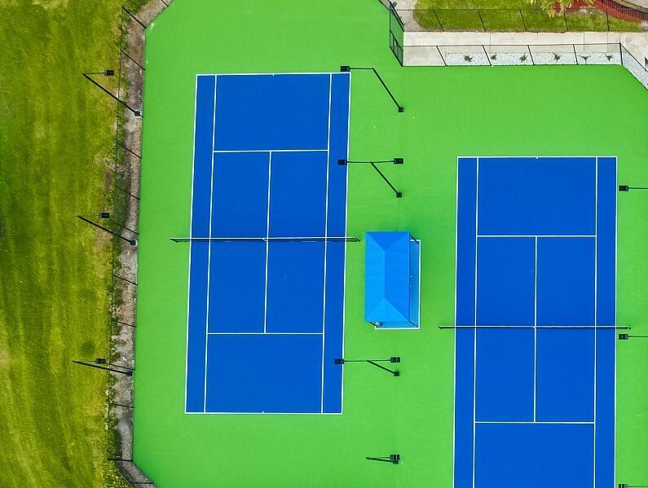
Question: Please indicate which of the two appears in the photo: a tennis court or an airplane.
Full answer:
I can see a tennis court in this picture.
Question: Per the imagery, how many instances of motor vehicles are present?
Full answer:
No motor vehicles are visible.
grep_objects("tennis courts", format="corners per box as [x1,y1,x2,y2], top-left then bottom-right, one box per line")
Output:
[453,157,617,488]
[185,72,349,414]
